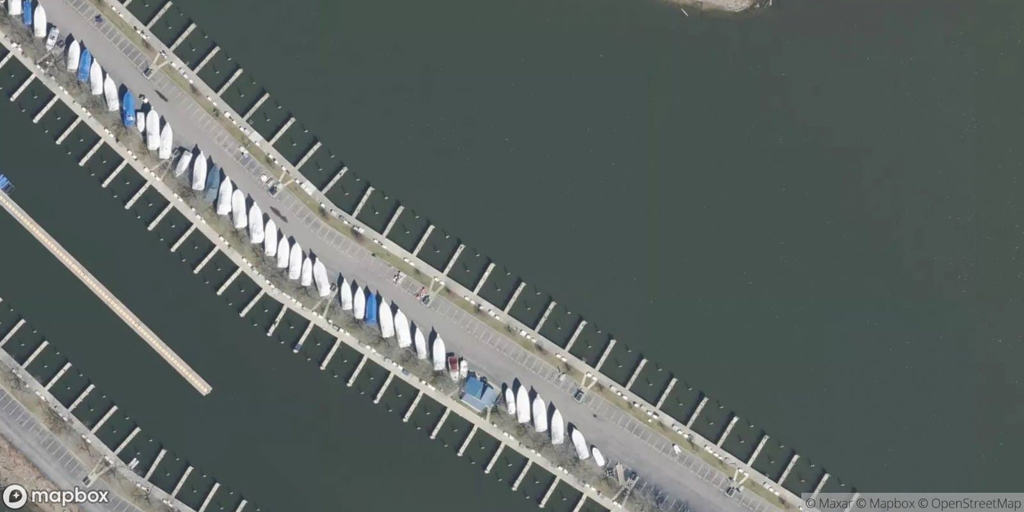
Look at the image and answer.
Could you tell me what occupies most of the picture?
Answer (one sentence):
The scene is dominated by water.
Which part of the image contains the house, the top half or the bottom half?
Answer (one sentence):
The bottom half of the photo is where the house is.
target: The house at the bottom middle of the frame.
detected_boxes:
[461,377,496,412]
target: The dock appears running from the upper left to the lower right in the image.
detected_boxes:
[0,186,212,397]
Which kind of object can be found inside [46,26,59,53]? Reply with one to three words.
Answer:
boat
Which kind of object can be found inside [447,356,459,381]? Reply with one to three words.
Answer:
boat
